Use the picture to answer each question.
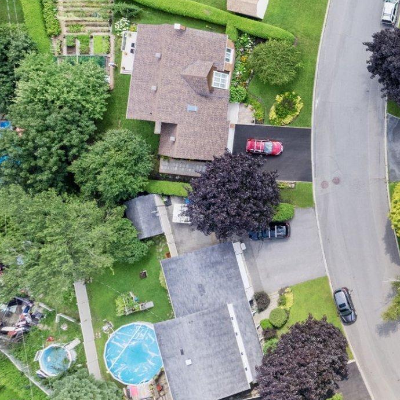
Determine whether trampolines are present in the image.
No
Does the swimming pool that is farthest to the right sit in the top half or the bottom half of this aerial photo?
bottom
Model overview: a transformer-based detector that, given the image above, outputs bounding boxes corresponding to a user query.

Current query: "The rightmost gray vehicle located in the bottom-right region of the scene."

[334,285,358,324]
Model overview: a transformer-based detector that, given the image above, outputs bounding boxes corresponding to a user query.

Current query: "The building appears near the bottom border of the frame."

[153,241,278,400]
